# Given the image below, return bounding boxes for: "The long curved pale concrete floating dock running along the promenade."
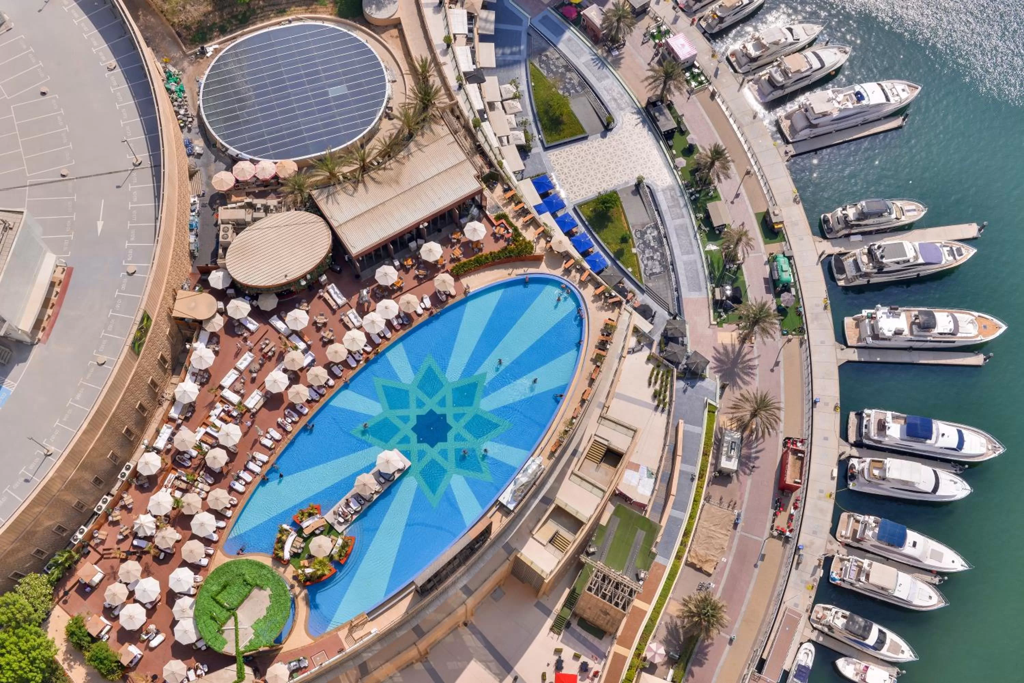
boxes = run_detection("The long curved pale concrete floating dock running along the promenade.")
[662,0,840,683]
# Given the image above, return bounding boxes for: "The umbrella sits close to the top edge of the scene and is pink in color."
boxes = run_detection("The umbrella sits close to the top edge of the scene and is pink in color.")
[562,8,577,24]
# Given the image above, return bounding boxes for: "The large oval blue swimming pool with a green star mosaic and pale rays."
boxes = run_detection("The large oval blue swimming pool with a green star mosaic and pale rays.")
[216,270,590,641]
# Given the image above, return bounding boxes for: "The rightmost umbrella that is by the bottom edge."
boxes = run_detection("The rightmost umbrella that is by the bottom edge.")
[645,642,666,664]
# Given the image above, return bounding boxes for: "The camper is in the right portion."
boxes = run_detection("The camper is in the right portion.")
[767,253,794,284]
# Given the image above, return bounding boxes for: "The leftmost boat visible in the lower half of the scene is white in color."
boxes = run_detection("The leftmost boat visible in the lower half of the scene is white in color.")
[785,643,815,683]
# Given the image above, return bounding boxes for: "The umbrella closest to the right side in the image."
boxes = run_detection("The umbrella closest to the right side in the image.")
[778,291,797,308]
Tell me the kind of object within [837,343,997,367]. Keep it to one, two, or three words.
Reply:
pier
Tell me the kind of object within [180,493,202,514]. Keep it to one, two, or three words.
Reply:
umbrella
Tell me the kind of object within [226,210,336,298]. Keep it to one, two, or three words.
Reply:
building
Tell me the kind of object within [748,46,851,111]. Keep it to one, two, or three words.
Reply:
boat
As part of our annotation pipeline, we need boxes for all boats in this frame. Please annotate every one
[825,555,949,613]
[723,20,828,75]
[748,46,851,111]
[834,510,974,574]
[845,411,1007,466]
[696,0,766,41]
[839,308,1009,354]
[785,643,815,683]
[828,240,976,288]
[805,598,918,662]
[844,457,973,507]
[774,84,923,148]
[817,200,927,243]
